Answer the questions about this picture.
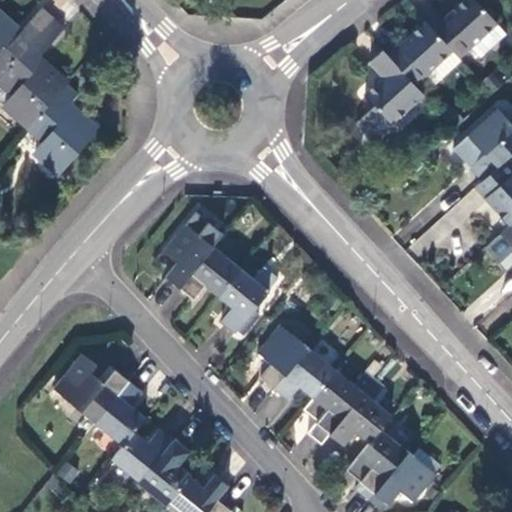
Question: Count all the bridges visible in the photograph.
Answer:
0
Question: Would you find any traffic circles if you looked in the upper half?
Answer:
Yes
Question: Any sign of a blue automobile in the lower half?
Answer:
Yes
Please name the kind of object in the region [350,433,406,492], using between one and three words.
house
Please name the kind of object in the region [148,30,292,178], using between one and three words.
roundabout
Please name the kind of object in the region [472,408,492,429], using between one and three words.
car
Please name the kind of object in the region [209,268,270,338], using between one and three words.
house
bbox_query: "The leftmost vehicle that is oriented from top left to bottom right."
[172,376,192,398]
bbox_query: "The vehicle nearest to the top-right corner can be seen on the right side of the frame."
[441,190,460,210]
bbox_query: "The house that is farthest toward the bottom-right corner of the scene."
[380,444,442,511]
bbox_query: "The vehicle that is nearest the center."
[156,283,172,304]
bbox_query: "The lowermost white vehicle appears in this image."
[230,476,251,498]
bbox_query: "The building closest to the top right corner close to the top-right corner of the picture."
[426,0,506,60]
